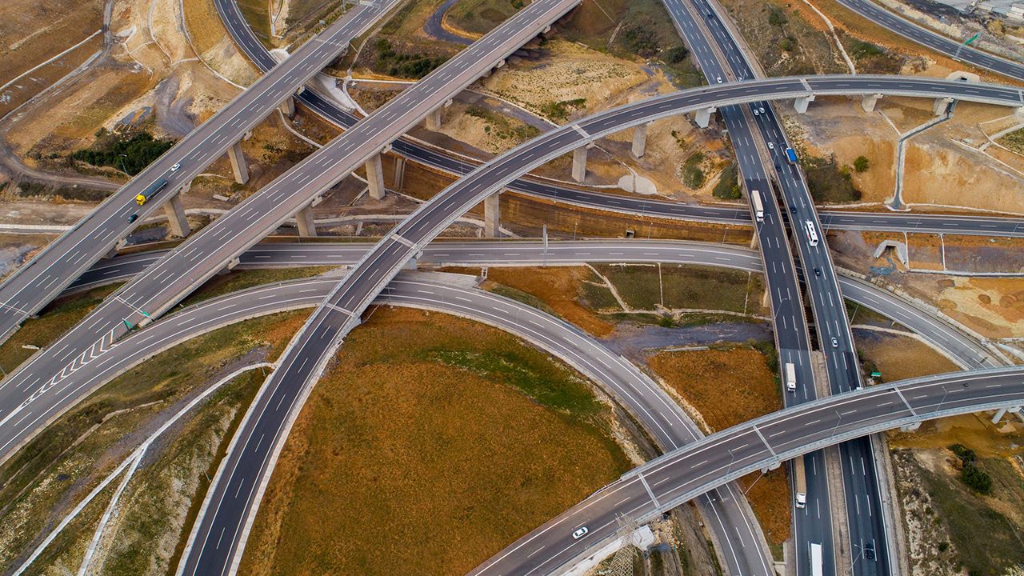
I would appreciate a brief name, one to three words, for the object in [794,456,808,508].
vehicle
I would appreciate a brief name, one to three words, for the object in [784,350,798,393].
vehicle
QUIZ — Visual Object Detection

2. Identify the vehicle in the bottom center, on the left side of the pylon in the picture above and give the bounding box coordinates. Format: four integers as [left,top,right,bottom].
[573,527,589,539]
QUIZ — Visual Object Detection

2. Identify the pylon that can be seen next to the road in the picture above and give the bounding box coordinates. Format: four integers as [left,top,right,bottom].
[606,523,650,576]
